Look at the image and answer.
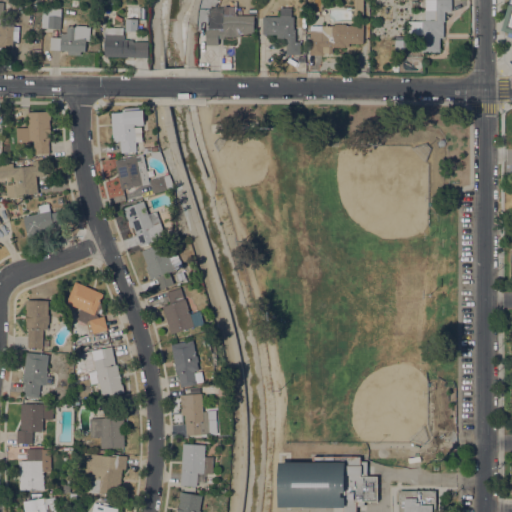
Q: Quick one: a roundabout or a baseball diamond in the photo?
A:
baseball diamond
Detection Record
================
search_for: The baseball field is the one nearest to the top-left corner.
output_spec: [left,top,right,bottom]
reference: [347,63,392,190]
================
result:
[214,137,269,188]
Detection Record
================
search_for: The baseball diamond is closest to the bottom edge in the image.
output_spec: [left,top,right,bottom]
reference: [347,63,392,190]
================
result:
[353,362,431,444]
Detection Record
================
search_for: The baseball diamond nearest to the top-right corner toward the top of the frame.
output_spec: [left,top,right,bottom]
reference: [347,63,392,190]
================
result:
[338,143,432,240]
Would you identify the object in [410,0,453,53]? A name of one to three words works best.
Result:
building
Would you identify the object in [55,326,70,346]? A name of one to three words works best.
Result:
swimming pool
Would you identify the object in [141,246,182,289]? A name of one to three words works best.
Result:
house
